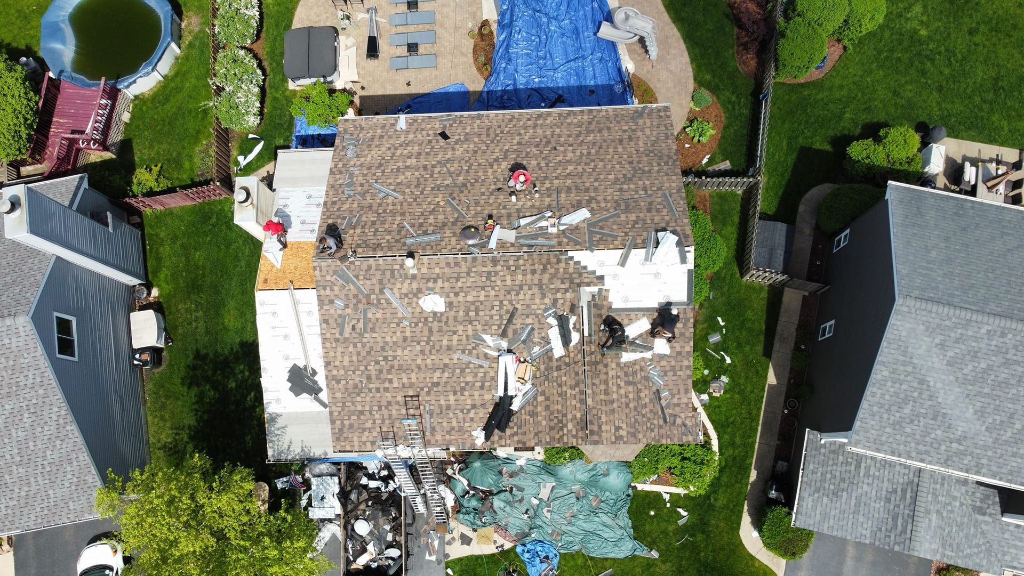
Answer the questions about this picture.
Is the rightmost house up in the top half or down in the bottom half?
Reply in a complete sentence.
The rightmost house is in the bottom half of the image.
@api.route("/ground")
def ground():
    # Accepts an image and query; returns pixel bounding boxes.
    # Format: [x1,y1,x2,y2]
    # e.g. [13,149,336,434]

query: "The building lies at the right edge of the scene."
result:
[777,179,1024,576]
